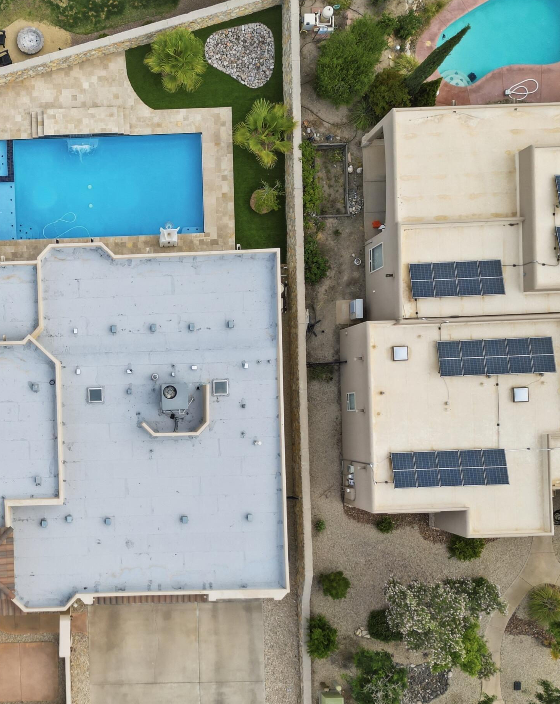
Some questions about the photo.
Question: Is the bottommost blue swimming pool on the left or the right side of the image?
left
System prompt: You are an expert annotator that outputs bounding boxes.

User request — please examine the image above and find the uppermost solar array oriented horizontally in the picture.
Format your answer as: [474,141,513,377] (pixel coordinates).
[409,260,505,298]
